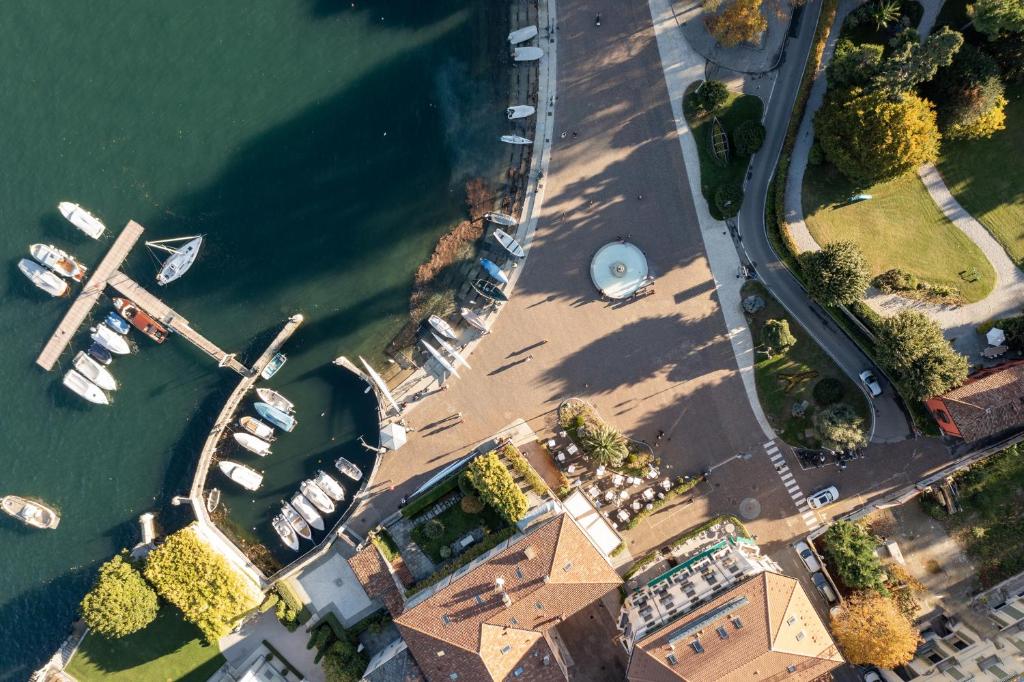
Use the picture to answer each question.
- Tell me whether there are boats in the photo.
Yes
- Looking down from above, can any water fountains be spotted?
Yes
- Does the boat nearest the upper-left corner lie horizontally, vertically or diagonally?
diagonally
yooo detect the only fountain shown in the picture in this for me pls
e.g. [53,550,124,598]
[589,240,649,300]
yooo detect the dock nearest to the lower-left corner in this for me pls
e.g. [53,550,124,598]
[141,509,159,540]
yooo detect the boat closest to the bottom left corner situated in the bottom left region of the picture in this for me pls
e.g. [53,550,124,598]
[0,498,62,532]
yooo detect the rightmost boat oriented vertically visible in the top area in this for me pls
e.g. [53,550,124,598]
[712,115,729,164]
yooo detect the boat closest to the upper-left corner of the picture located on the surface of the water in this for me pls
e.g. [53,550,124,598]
[56,204,106,240]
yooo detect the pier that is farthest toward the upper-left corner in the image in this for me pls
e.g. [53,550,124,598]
[36,221,251,378]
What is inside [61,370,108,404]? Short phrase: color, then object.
white boat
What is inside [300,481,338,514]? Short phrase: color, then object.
white boat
